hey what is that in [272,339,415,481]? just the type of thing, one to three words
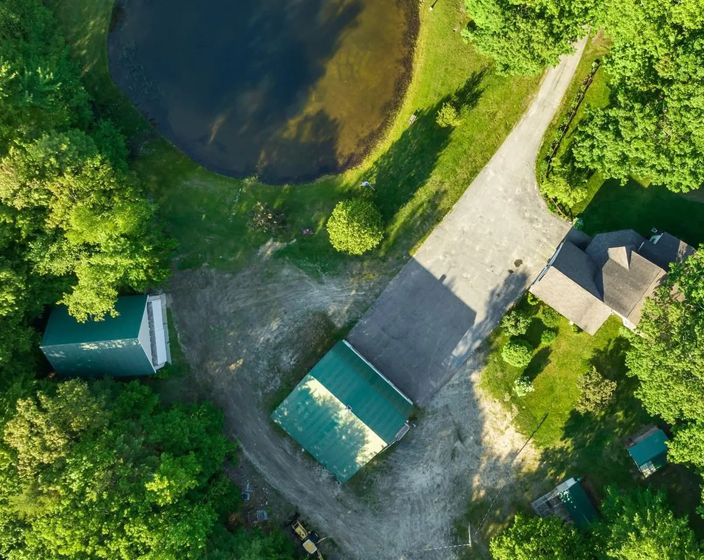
building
